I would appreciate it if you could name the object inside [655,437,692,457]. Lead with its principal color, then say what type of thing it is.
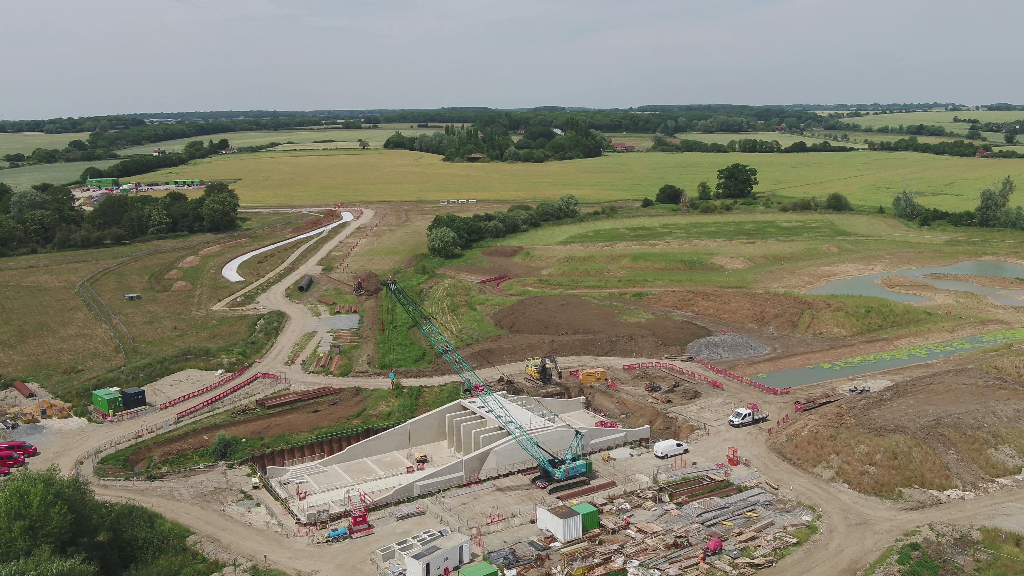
white vehicle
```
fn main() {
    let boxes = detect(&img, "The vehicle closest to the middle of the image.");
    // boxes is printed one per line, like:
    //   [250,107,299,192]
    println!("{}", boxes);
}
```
[526,354,575,386]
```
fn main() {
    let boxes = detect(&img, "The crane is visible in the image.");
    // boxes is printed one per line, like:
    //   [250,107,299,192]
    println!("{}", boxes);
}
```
[376,270,599,492]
